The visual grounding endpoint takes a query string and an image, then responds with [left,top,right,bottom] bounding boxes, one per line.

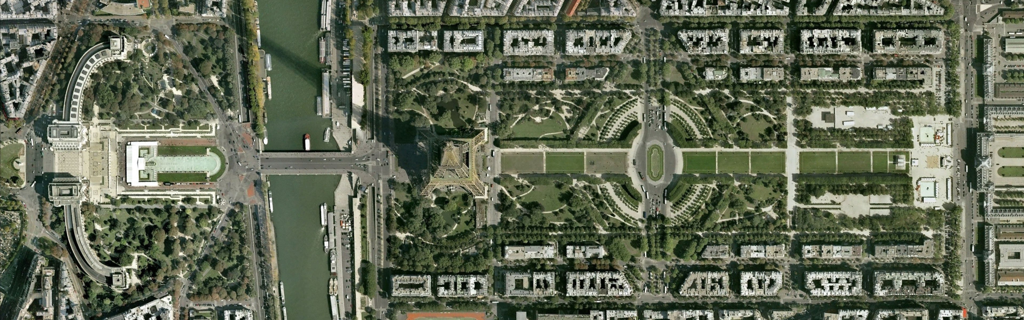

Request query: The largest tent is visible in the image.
[127,141,158,186]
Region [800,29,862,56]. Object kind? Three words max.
building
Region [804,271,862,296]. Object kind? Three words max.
building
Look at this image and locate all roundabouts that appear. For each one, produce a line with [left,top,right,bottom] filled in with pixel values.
[646,140,665,185]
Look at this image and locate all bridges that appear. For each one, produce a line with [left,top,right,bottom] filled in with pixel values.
[261,152,353,176]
